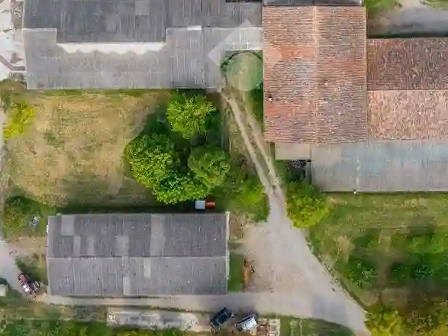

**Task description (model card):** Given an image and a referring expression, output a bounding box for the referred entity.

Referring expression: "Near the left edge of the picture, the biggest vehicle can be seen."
[15,272,37,298]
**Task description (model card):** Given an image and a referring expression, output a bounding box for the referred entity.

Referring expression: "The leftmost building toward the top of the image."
[23,0,226,92]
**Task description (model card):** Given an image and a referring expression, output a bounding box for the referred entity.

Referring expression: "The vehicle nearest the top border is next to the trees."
[194,200,214,212]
